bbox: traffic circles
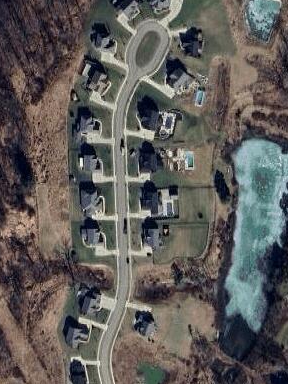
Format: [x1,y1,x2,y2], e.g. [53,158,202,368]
[128,20,170,75]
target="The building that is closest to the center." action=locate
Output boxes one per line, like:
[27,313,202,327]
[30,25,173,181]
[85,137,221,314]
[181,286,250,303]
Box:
[139,186,161,214]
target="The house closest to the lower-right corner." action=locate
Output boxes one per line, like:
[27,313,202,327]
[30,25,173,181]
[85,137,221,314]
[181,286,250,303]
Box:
[132,313,158,337]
